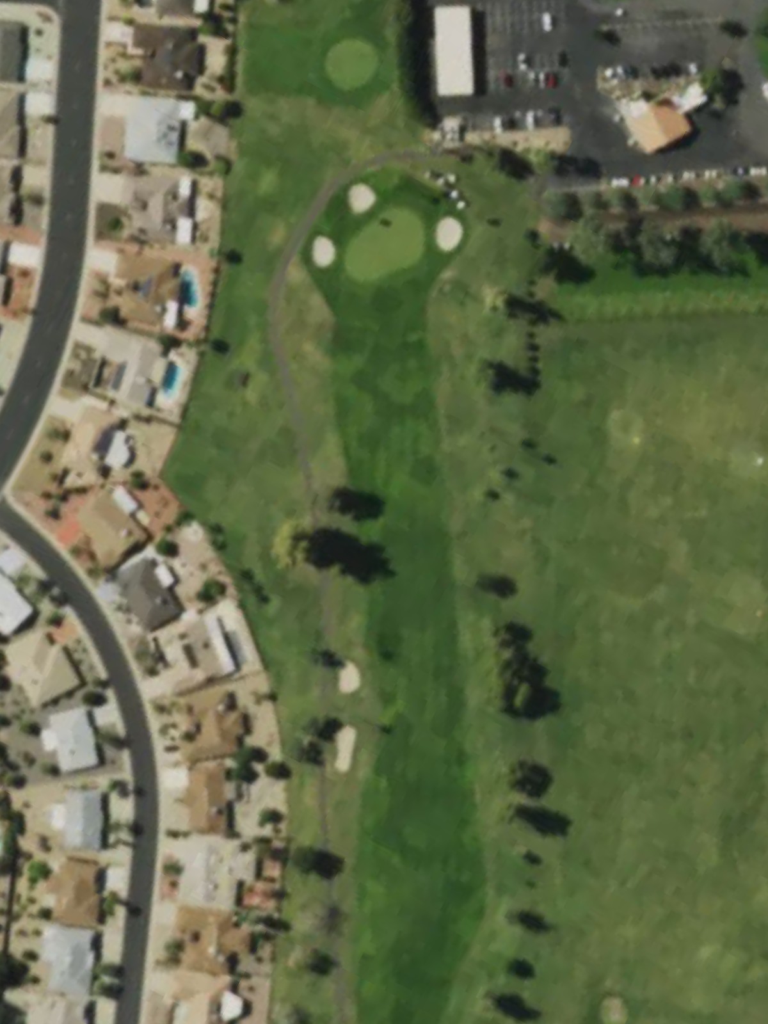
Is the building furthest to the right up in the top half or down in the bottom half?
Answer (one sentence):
The building furthest to the right is in the top half of the image.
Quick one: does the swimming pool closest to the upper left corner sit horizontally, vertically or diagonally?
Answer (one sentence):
What the image shows is the swimming pool closest to the upper left corner lying vertically.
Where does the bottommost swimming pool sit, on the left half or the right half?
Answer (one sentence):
The bottommost swimming pool appears in the left half of the scene.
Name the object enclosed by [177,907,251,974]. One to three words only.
house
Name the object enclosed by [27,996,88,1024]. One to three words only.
house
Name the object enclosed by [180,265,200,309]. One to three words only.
swimming pool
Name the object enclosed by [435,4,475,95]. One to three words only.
building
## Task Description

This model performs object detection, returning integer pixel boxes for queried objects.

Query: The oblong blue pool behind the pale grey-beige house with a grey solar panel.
[161,359,183,399]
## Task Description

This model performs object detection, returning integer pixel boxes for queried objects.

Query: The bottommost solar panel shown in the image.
[90,426,113,454]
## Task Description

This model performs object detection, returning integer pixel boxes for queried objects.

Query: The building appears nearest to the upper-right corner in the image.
[625,83,707,154]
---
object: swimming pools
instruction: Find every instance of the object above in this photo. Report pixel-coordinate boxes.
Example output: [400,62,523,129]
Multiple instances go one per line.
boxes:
[161,359,183,399]
[180,265,200,309]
